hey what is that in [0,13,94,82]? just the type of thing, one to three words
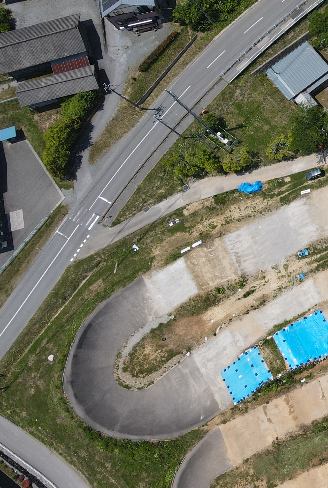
barn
